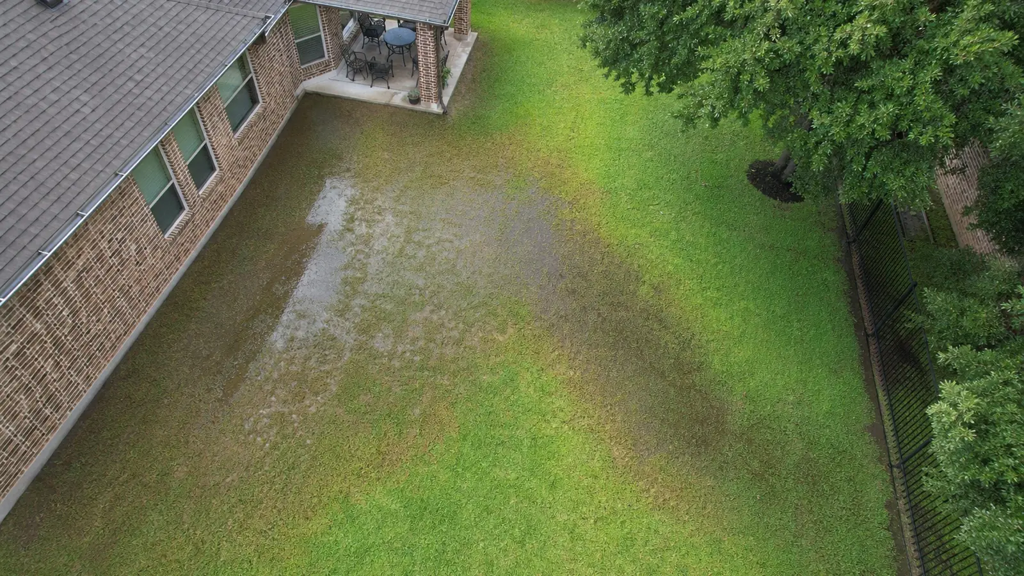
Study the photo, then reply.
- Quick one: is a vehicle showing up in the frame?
No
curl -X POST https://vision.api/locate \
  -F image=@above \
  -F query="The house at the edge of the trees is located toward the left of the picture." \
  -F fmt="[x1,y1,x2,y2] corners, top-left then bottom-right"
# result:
[0,0,466,515]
